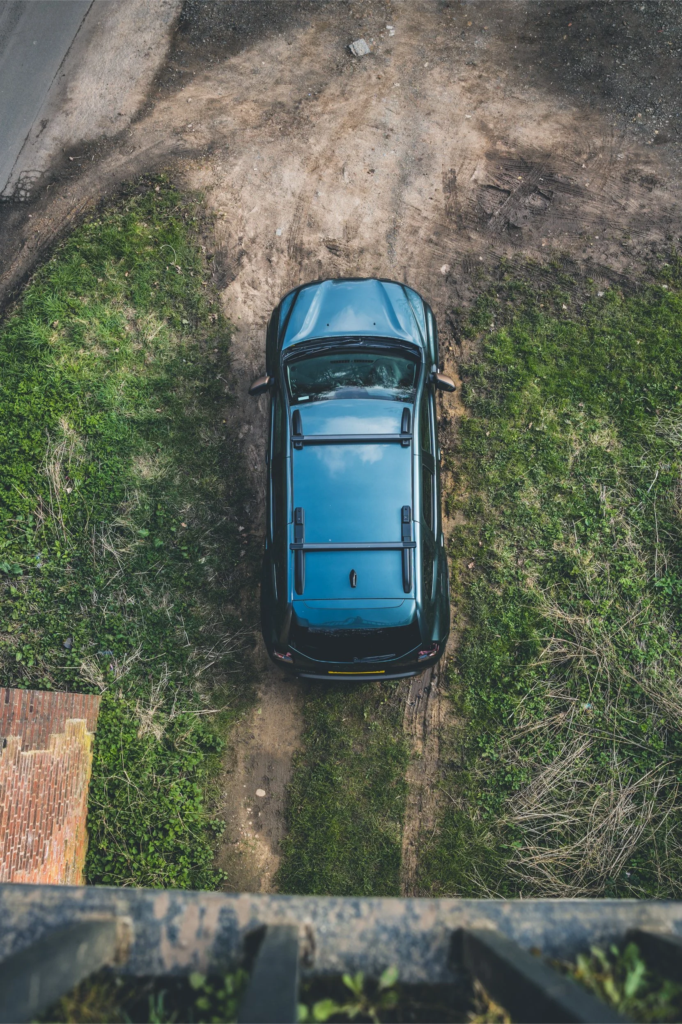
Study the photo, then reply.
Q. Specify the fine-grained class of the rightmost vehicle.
automobile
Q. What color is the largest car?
blue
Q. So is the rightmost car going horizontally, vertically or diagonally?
vertically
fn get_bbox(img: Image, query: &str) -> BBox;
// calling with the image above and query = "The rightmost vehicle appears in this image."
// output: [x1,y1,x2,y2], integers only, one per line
[249,275,456,682]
